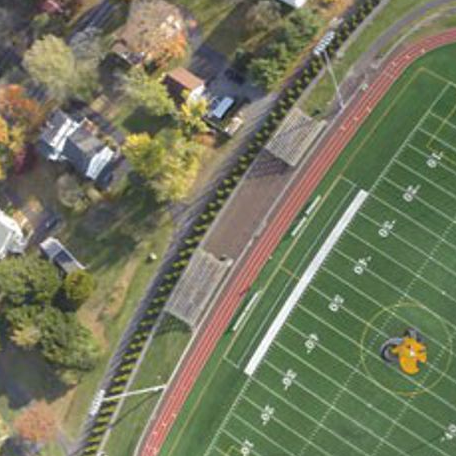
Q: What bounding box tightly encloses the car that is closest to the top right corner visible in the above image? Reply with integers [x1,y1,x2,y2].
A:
[225,68,244,82]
